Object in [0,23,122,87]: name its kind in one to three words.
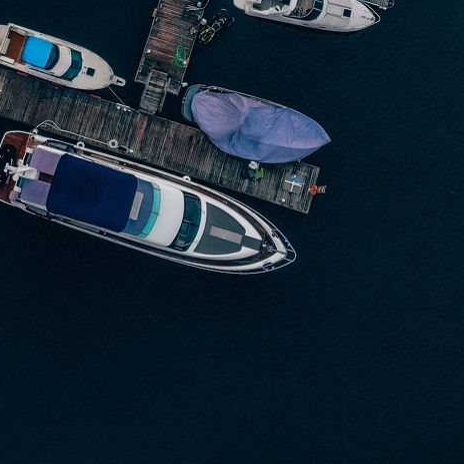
boat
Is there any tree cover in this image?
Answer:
No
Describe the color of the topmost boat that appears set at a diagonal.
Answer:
black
